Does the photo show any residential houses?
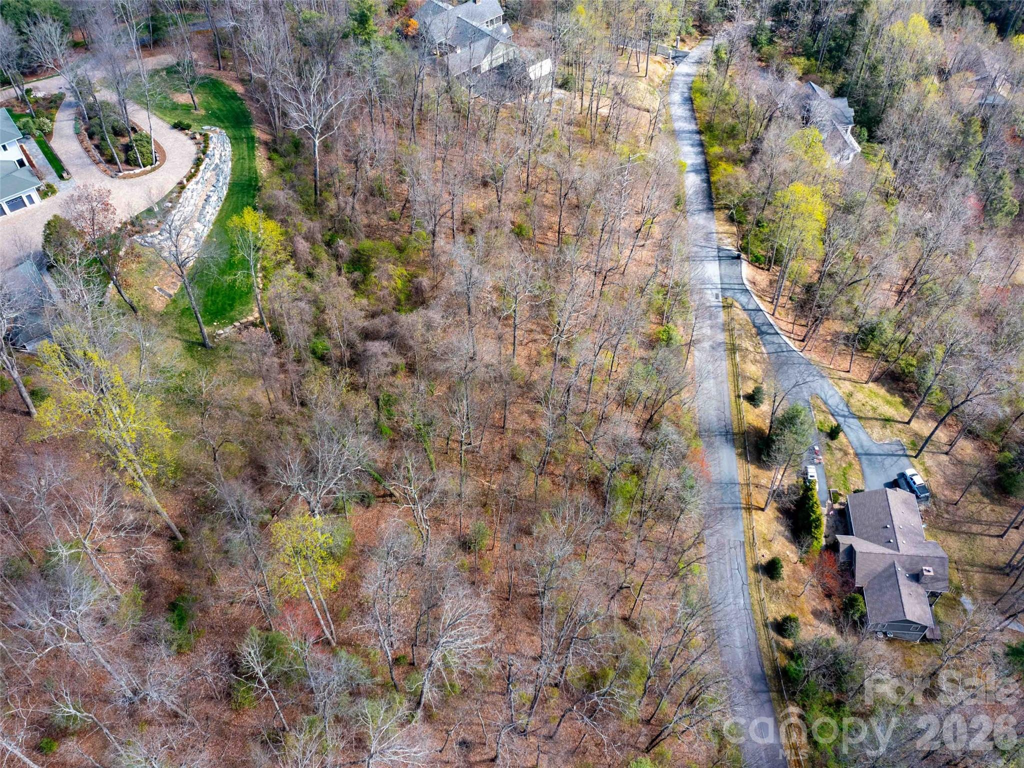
Yes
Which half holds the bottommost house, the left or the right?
right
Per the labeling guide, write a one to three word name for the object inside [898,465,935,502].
truck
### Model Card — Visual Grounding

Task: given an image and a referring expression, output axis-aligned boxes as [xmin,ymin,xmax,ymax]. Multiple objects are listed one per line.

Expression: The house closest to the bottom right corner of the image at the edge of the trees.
[829,486,952,648]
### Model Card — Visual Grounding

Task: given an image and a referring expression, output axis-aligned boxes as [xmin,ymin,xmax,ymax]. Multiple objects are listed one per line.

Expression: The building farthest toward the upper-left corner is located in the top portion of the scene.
[0,123,44,216]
